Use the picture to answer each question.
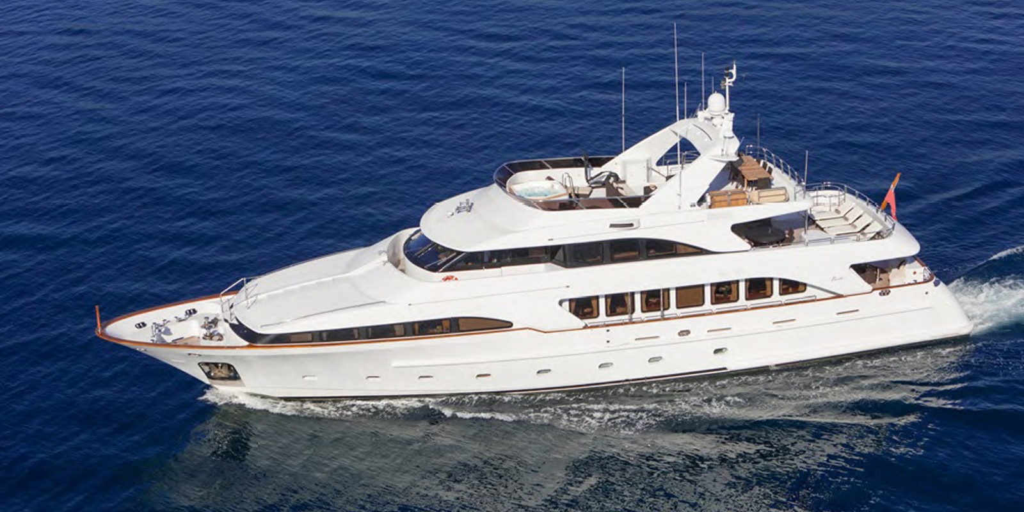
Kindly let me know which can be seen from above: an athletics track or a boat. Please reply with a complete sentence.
This aerial view contains a boat.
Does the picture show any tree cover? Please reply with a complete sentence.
No, the picture contains no tree cover.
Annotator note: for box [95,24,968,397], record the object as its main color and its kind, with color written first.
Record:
white boat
